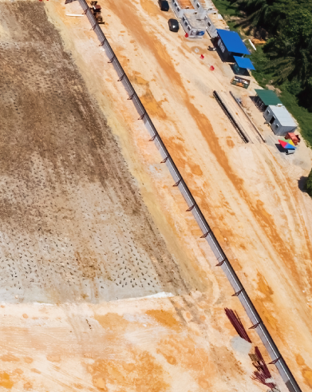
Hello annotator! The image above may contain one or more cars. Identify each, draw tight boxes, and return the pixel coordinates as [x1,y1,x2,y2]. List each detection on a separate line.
[158,0,171,11]
[168,16,180,29]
